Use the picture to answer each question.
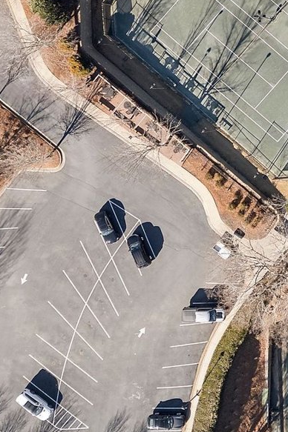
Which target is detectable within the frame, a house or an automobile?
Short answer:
automobile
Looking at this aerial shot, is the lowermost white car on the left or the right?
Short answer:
left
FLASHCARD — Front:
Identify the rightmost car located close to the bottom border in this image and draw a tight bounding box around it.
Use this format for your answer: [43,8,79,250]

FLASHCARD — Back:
[147,412,186,432]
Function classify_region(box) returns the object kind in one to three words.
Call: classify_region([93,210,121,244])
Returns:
car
